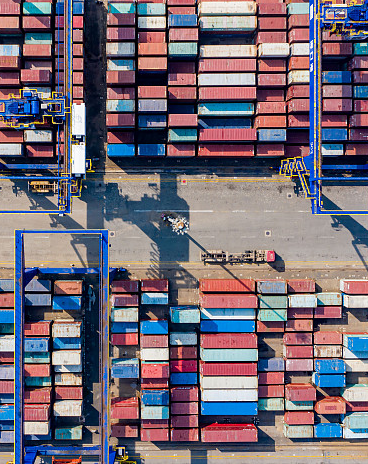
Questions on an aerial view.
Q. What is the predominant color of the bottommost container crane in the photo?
blue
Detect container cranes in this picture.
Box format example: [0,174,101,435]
[266,0,368,215]
[0,0,99,216]
[12,230,132,464]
